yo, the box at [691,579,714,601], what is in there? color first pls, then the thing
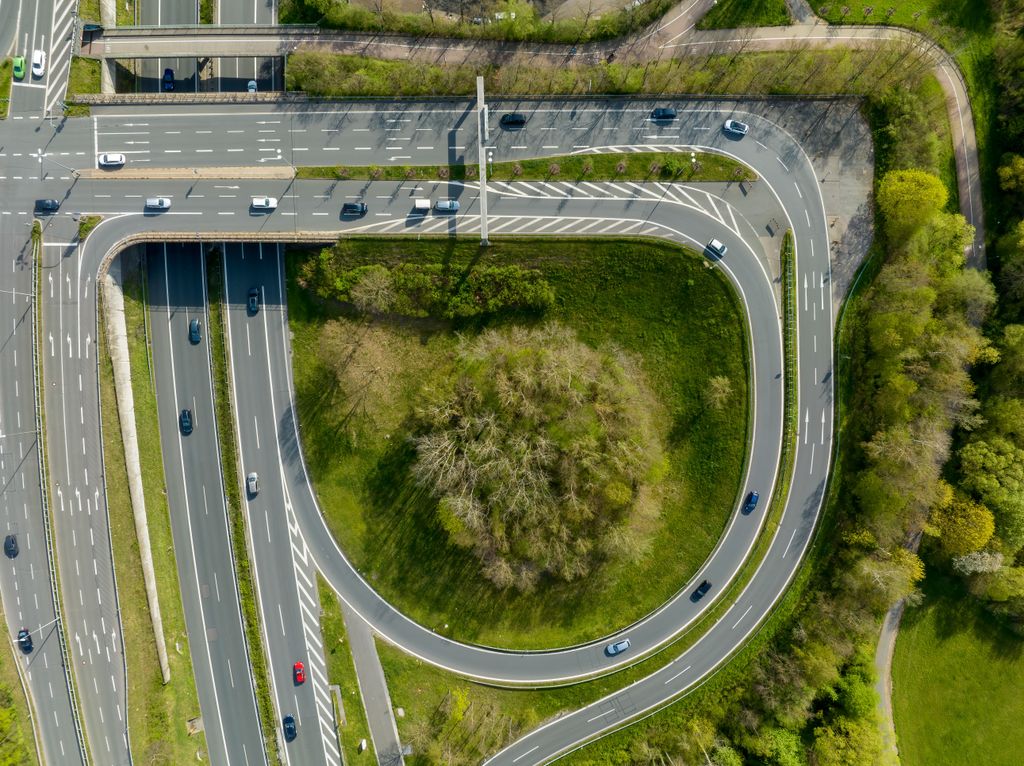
black car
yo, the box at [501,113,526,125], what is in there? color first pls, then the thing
black vehicle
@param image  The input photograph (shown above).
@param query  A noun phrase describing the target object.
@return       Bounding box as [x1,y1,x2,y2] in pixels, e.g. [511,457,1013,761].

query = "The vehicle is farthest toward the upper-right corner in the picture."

[725,120,748,135]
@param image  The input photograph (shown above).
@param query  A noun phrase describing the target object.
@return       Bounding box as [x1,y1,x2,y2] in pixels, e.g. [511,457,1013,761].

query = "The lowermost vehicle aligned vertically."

[283,715,296,741]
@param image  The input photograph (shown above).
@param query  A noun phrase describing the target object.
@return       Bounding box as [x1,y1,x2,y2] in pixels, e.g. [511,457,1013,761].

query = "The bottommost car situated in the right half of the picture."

[606,639,631,655]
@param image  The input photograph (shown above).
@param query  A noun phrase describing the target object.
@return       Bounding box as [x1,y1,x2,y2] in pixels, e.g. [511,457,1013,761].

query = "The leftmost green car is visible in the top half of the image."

[11,57,26,80]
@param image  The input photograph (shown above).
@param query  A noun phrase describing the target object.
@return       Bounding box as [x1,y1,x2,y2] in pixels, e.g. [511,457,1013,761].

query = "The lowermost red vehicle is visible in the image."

[293,661,305,684]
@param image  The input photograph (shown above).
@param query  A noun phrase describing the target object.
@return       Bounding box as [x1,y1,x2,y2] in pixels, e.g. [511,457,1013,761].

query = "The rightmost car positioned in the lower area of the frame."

[743,491,760,514]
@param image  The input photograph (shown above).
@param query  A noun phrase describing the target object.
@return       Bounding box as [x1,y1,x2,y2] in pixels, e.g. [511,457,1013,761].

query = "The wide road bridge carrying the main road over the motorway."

[68,90,339,280]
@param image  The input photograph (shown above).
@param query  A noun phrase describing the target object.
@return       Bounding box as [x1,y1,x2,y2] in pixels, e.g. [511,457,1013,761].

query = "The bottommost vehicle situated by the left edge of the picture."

[18,630,33,652]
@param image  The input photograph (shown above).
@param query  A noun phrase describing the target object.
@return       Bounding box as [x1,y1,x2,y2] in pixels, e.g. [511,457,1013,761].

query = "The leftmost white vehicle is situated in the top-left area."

[30,51,46,77]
